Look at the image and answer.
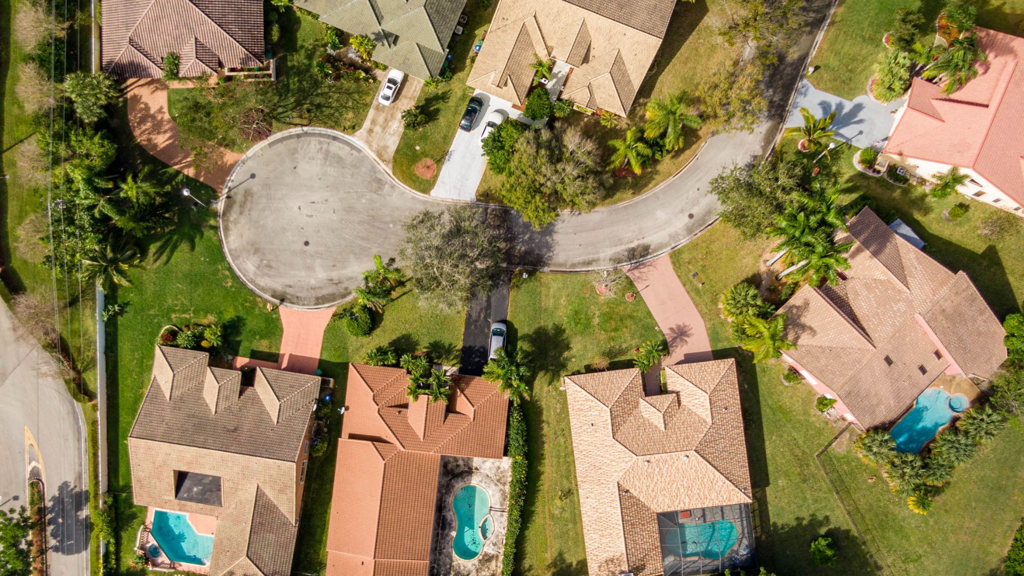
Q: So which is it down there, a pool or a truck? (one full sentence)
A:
The one in the frame is a pool.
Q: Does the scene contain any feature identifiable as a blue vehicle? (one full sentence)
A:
No, the scene contains no blue vehicle.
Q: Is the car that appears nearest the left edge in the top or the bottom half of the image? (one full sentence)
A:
The car that appears nearest the left edge is in the top half of the image.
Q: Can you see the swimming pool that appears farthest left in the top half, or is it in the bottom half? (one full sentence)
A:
It is in the bottom half that the swimming pool that appears farthest left appears.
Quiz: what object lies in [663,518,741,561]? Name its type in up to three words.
swimming pool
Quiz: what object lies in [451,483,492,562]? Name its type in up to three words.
swimming pool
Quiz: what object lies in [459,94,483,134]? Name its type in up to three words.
car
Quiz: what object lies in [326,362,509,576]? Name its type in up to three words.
house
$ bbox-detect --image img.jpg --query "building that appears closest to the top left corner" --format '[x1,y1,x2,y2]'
[101,0,268,87]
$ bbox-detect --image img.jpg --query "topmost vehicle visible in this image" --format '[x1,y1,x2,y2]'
[375,69,406,107]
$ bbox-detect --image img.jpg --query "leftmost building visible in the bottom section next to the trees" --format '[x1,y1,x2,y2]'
[127,345,323,576]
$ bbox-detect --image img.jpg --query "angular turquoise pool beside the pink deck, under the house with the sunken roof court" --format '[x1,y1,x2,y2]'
[148,508,215,568]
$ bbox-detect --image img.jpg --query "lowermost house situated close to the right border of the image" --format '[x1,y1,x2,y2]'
[770,205,1007,432]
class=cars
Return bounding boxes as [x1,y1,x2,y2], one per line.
[478,112,505,151]
[459,94,483,134]
[487,322,507,363]
[375,69,406,107]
